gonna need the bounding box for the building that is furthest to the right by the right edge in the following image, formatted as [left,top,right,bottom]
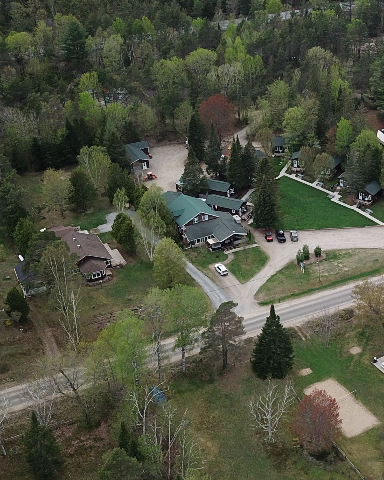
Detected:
[356,180,384,207]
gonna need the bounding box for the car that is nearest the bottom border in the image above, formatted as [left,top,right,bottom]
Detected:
[214,264,229,277]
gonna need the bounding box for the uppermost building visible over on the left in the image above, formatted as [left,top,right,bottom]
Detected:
[121,141,149,172]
